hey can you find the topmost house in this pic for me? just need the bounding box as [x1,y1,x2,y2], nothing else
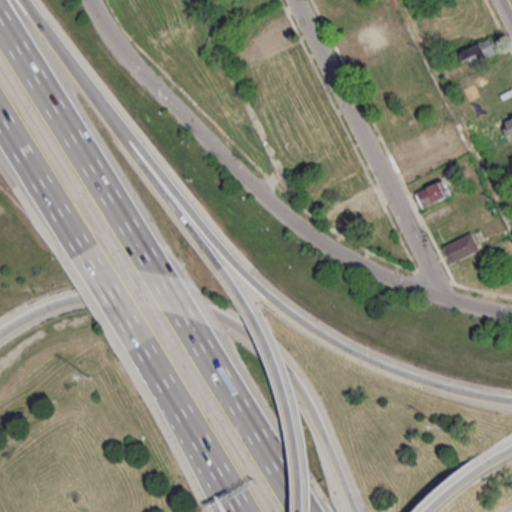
[460,34,498,67]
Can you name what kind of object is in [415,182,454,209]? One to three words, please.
house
